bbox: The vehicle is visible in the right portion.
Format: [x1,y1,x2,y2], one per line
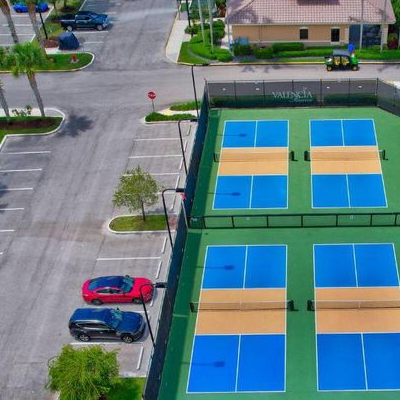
[326,47,360,71]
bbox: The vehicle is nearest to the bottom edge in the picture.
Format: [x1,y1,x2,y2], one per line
[66,307,145,344]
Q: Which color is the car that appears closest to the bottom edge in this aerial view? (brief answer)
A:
blue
